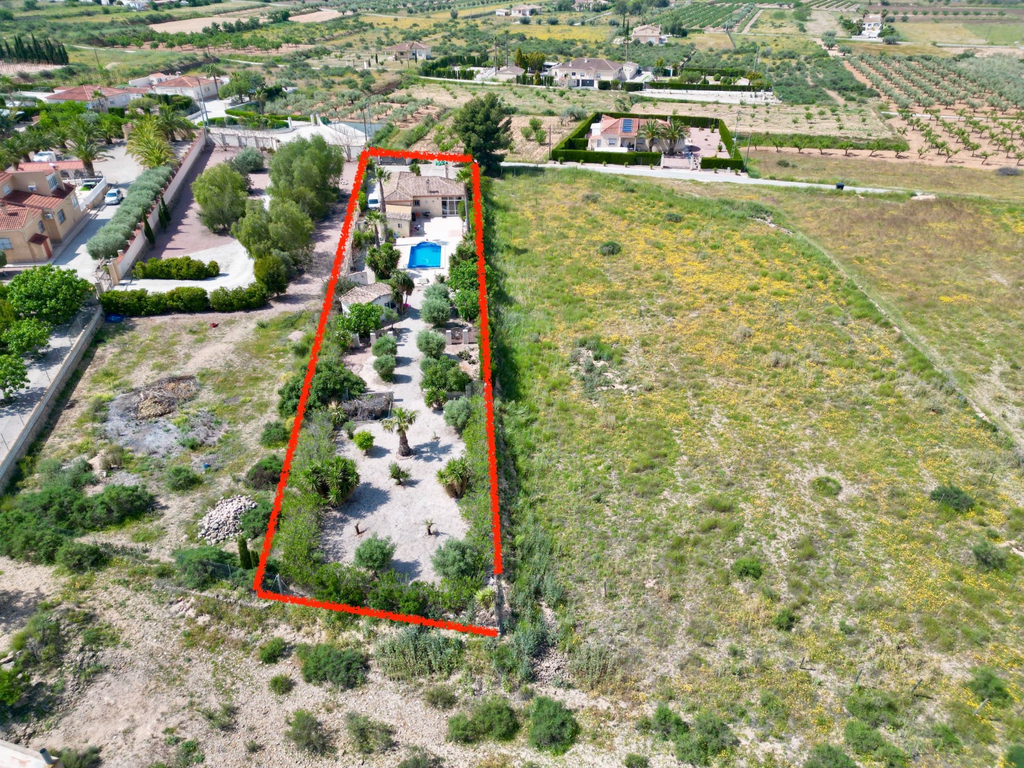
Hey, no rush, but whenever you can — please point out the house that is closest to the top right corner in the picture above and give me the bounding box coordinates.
[853,14,899,38]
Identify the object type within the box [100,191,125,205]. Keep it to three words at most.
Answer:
car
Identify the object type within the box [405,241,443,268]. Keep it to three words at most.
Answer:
swimming pool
